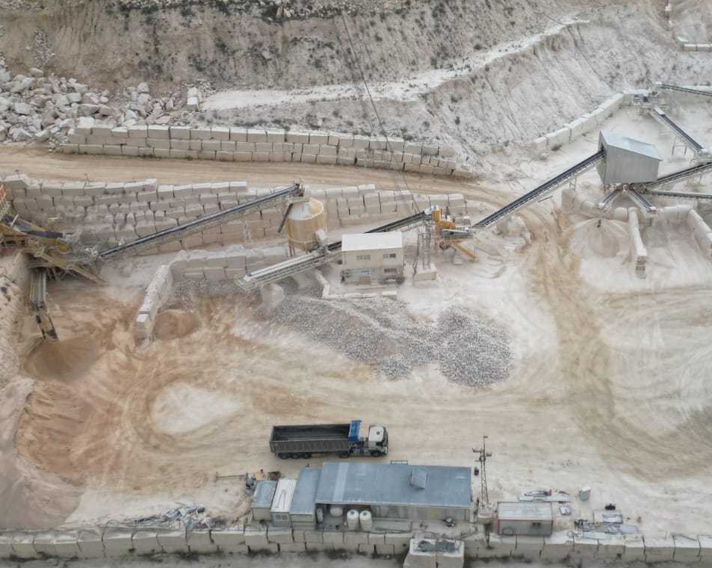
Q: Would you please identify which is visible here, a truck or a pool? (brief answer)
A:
truck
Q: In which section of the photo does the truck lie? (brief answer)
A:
bottom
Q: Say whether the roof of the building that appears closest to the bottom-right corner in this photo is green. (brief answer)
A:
No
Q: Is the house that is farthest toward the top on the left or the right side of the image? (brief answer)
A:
right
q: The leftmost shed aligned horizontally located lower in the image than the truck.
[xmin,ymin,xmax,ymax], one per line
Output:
[314,460,470,523]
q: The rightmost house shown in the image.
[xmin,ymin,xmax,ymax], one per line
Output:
[589,129,662,203]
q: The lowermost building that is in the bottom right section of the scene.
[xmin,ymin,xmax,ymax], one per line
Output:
[496,498,554,535]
